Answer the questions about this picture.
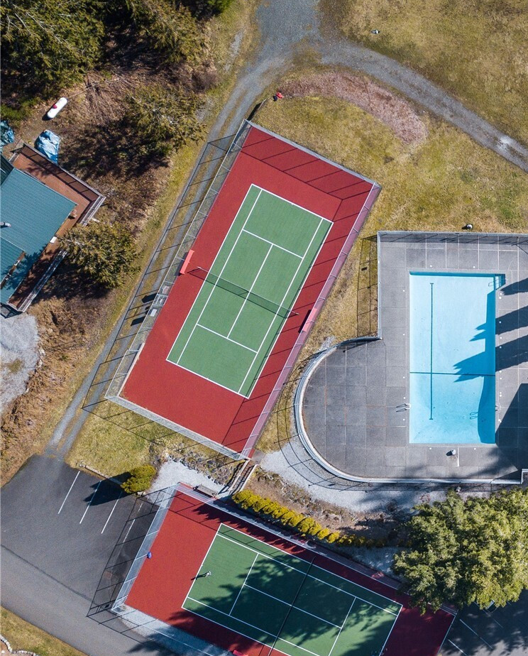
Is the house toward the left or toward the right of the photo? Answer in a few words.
left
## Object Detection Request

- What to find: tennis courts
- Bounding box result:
[120,127,379,458]
[125,483,454,656]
